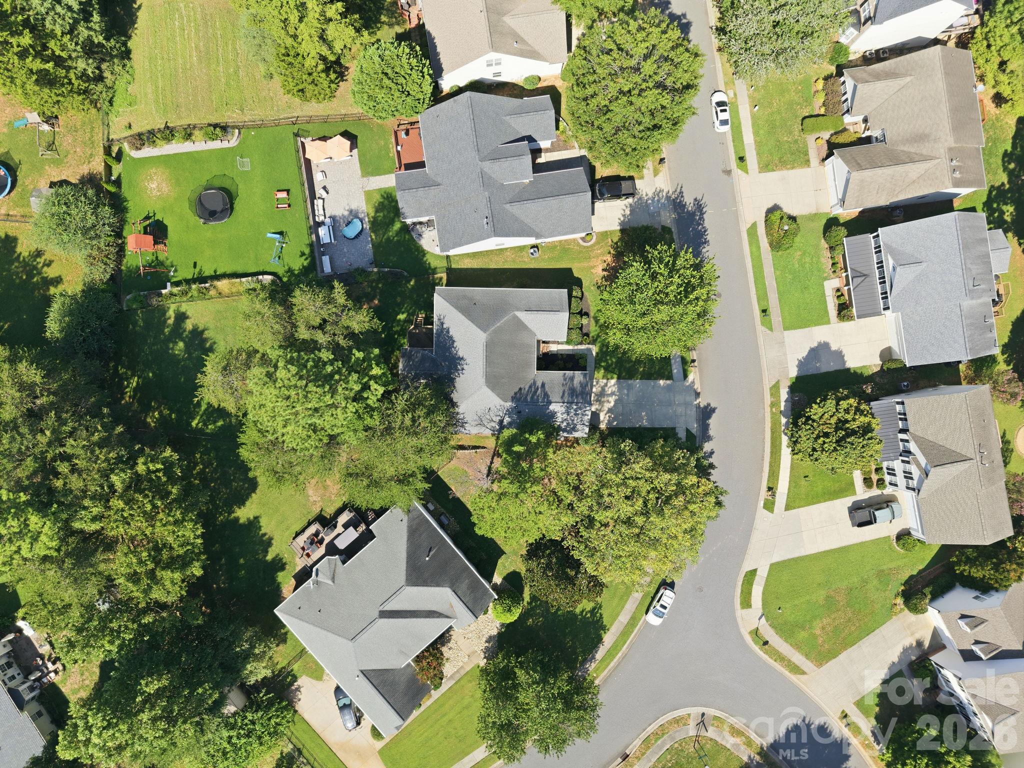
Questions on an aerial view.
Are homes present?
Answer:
Yes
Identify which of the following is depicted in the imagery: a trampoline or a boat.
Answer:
trampoline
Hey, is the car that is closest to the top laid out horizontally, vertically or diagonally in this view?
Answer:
vertically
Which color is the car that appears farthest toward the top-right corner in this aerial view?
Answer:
white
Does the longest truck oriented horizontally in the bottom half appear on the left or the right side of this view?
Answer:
right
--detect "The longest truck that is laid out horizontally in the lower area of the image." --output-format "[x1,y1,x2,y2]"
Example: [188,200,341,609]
[748,491,910,569]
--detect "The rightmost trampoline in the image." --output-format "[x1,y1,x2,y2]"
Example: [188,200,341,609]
[188,183,233,225]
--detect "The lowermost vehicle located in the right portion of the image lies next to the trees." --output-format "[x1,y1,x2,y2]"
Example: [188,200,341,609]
[646,584,676,627]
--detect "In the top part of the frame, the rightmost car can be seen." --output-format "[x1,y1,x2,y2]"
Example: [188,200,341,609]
[709,91,730,133]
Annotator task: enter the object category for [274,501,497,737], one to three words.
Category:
house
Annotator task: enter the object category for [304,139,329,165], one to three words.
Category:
umbrella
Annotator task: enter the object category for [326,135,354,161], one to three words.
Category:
umbrella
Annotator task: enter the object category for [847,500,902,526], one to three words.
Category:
truck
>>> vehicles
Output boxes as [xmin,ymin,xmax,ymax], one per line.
[589,176,641,199]
[748,491,910,569]
[331,686,359,733]
[646,584,676,627]
[286,676,384,768]
[591,171,667,232]
[847,500,902,526]
[709,91,730,133]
